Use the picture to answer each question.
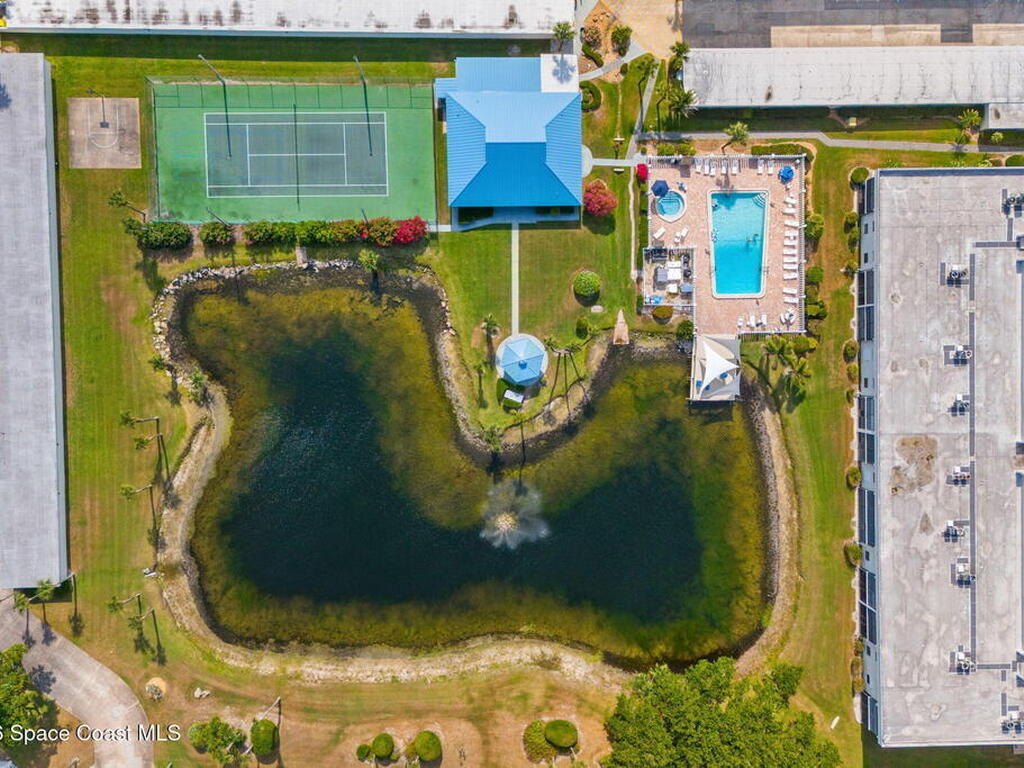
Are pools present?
Yes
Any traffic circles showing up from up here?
No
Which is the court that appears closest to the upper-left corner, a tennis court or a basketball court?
basketball court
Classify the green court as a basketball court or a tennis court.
tennis court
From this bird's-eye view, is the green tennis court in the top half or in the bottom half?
top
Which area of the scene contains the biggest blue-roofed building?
top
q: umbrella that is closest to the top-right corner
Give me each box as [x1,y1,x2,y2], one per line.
[779,167,793,181]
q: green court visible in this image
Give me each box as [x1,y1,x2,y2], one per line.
[154,83,436,222]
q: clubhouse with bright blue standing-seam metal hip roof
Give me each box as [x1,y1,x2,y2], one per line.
[435,54,582,208]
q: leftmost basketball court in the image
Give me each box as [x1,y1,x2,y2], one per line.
[68,97,141,168]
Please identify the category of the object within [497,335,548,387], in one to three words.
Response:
gazebo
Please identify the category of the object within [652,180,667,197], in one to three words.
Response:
umbrella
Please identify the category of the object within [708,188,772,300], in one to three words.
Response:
swimming pool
